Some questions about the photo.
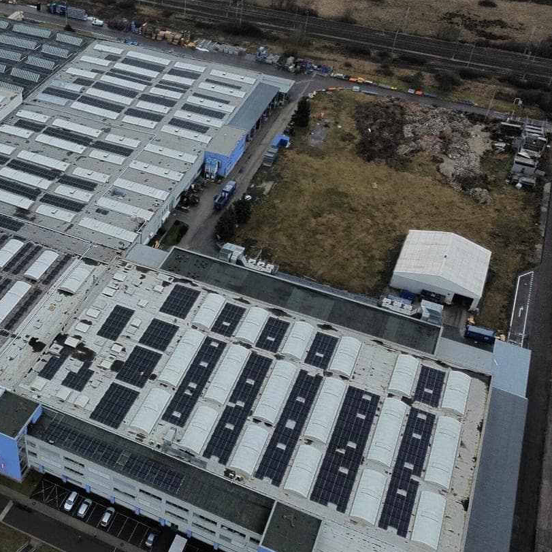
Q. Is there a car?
Yes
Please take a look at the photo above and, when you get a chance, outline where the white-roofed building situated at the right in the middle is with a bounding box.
[391,231,490,312]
